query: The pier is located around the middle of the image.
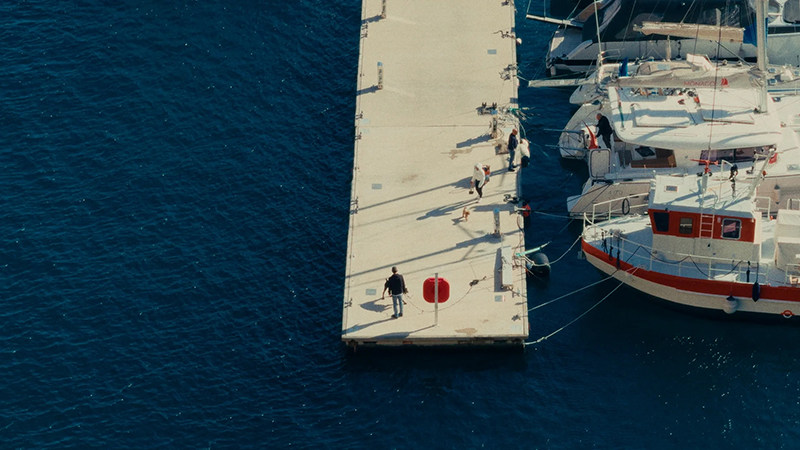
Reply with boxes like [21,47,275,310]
[342,0,528,355]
